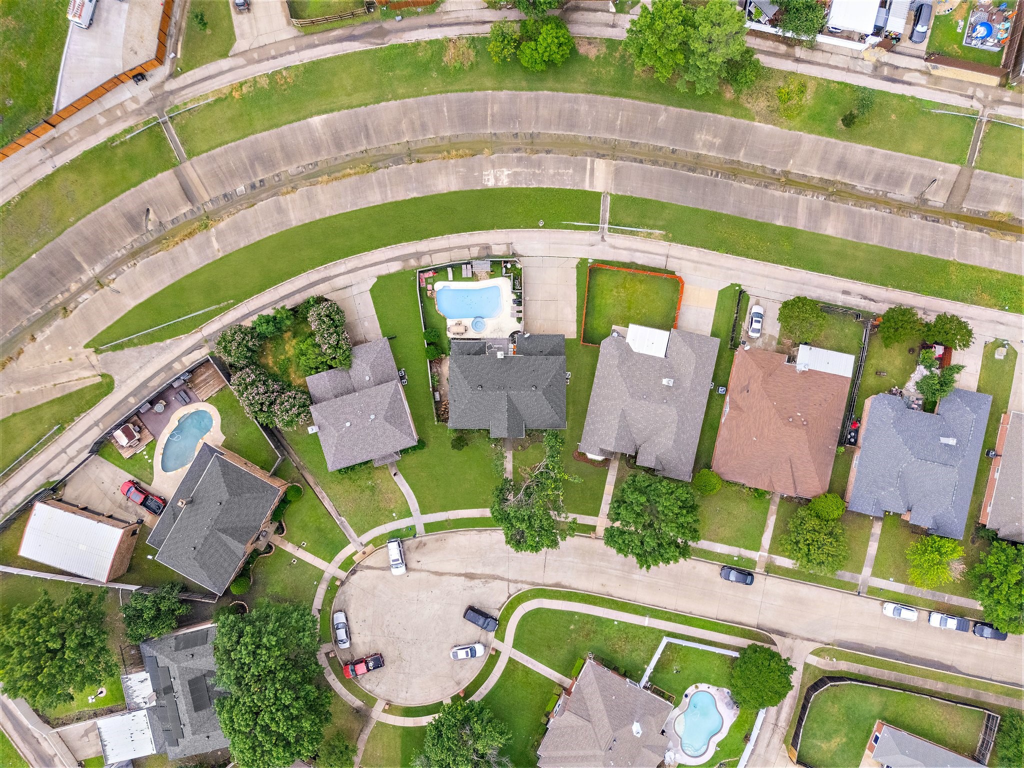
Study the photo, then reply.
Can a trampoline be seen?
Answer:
No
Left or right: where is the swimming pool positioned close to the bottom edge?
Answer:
right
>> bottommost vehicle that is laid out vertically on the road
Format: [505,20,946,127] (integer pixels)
[334,611,353,649]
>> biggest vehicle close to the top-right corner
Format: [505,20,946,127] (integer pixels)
[910,1,937,44]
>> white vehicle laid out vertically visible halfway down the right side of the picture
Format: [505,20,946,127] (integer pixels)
[747,305,765,338]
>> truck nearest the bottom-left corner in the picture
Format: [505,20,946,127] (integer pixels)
[119,479,167,519]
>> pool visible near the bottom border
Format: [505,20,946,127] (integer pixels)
[667,683,740,766]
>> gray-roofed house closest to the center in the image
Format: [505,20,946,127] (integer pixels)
[448,332,567,439]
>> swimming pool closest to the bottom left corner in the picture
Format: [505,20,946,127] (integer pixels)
[151,402,225,504]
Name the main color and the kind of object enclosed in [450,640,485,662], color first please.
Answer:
white car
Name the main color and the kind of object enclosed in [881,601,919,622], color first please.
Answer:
white car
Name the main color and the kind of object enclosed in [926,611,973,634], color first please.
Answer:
white truck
